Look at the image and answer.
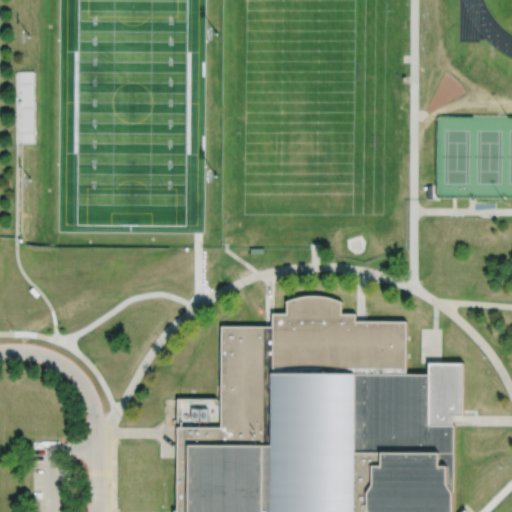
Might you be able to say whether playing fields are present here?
Yes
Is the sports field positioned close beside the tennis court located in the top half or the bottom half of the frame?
top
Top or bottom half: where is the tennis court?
top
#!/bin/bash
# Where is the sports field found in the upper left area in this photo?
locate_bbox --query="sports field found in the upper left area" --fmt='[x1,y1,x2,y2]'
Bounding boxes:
[59,0,206,234]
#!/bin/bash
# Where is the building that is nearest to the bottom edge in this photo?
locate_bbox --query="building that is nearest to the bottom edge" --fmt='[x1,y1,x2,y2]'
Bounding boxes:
[176,296,466,512]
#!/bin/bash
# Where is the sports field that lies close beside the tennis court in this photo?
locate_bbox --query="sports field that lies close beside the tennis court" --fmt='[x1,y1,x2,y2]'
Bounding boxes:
[224,0,402,232]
